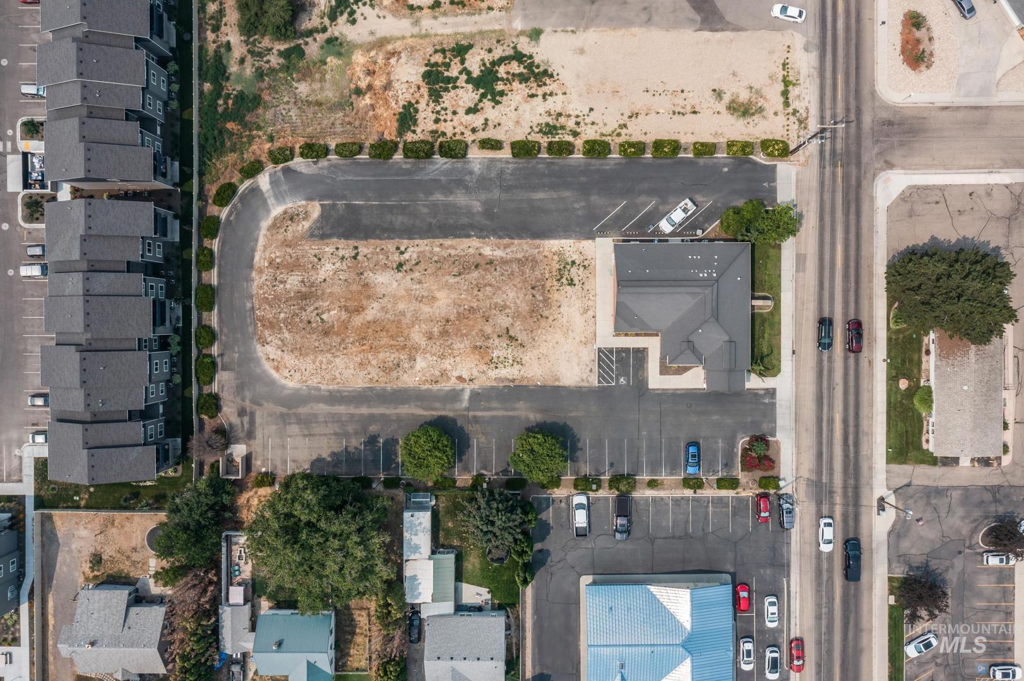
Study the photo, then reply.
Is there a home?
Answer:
Yes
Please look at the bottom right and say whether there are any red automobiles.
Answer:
Yes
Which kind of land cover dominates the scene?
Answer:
paved ground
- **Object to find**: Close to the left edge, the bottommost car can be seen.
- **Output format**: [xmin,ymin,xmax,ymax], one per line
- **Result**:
[29,431,47,446]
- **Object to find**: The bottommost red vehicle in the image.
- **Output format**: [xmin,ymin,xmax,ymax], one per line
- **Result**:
[789,637,806,671]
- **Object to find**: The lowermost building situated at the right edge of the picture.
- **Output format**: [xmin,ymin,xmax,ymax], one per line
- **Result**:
[929,332,1003,458]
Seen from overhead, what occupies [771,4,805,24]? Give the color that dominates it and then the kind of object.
white car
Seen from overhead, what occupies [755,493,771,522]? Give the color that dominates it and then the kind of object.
red car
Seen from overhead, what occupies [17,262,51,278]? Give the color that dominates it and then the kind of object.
white vehicle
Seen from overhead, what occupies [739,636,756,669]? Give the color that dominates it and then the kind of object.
white car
